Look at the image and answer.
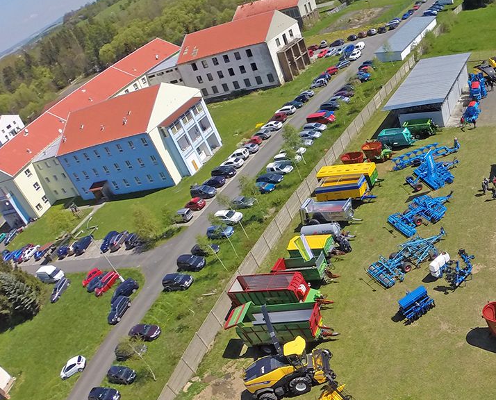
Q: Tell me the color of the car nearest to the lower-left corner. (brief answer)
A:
white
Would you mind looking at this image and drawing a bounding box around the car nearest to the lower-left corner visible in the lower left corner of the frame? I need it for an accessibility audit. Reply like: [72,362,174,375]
[60,351,89,383]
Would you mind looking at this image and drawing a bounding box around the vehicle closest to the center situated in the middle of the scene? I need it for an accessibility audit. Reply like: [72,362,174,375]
[232,192,258,210]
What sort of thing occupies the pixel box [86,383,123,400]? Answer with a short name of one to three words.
car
